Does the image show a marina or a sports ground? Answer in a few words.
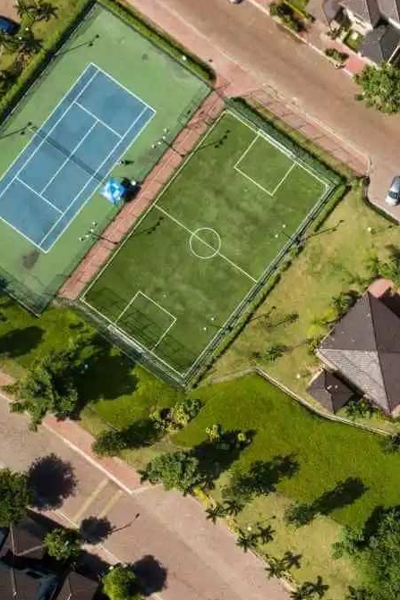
sports ground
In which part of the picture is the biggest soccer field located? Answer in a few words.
center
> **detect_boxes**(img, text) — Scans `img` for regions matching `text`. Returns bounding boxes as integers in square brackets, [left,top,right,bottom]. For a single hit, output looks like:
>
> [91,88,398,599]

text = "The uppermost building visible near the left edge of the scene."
[0,522,47,565]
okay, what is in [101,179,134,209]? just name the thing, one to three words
tent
